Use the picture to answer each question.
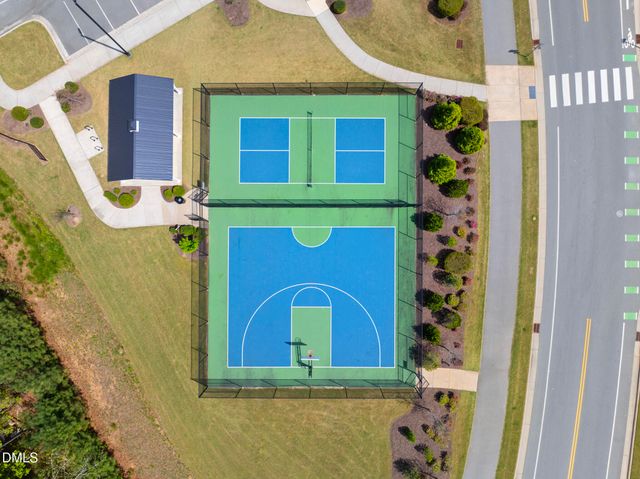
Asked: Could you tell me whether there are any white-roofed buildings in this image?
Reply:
No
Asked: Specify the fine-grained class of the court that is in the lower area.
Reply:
basketball court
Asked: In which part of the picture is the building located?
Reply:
top left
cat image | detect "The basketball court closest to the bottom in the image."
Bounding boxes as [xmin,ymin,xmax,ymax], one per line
[208,208,416,388]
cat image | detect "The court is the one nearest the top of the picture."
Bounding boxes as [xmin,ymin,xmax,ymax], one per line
[208,95,416,208]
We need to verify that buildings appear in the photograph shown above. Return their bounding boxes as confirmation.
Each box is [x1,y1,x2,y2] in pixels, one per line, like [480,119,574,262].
[107,73,183,186]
